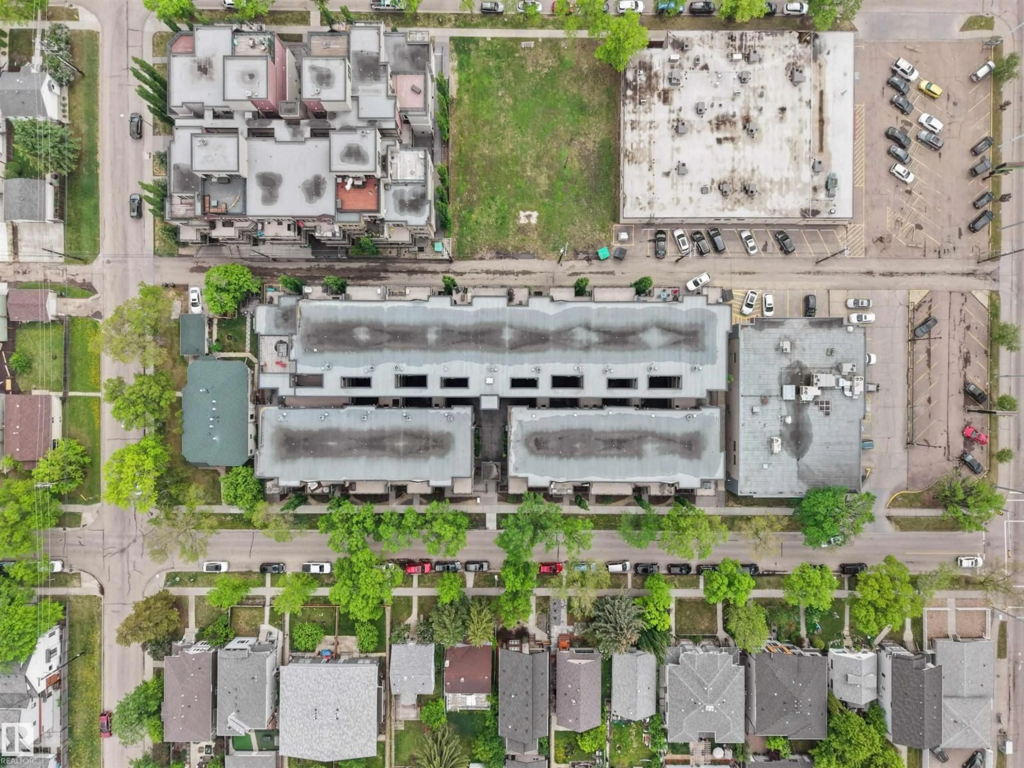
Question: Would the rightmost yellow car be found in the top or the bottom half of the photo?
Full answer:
It is in the top half that the rightmost yellow car appears.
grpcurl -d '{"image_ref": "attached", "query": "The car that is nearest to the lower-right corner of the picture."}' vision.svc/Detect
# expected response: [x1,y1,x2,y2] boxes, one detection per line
[964,748,987,768]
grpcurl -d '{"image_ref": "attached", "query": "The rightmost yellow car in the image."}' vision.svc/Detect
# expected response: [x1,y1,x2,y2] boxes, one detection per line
[916,80,943,101]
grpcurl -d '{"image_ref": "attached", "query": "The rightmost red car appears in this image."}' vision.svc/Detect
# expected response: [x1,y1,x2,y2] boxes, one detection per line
[961,426,989,445]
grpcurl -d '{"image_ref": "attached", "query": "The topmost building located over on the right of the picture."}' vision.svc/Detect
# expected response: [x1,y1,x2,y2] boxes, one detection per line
[621,30,854,225]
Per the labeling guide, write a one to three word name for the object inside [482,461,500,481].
building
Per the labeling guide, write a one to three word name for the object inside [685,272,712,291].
car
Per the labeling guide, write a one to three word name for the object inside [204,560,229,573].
vehicle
